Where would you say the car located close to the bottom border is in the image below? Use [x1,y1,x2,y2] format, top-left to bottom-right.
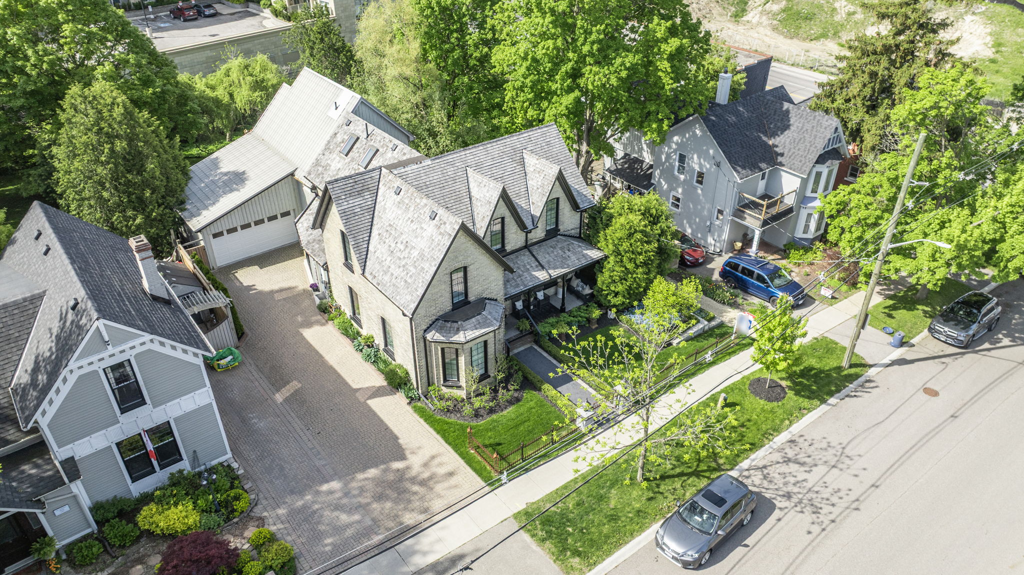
[652,473,760,567]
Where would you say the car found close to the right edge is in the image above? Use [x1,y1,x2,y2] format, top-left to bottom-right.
[930,288,1006,348]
